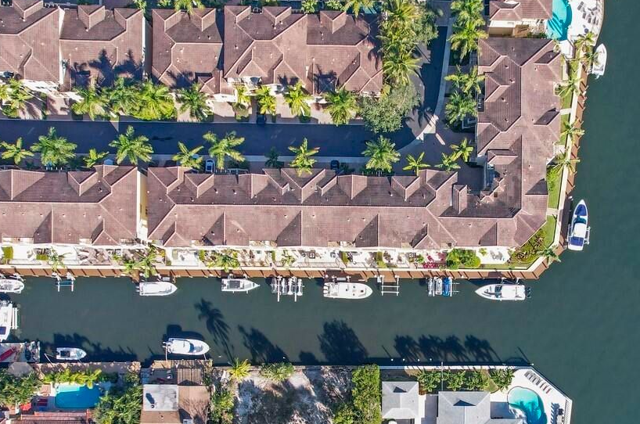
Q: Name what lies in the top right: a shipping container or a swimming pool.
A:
swimming pool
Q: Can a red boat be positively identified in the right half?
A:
No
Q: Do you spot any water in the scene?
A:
Yes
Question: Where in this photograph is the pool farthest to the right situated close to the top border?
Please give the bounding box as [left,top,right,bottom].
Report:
[546,0,574,41]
